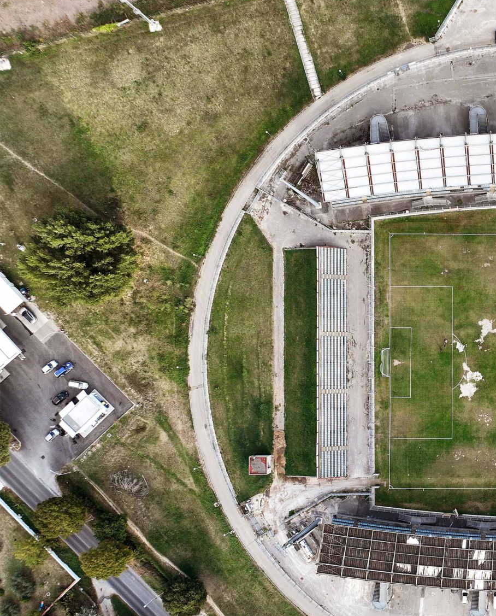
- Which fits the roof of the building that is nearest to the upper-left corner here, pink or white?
white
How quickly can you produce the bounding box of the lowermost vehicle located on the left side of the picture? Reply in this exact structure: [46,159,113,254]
[44,429,61,441]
